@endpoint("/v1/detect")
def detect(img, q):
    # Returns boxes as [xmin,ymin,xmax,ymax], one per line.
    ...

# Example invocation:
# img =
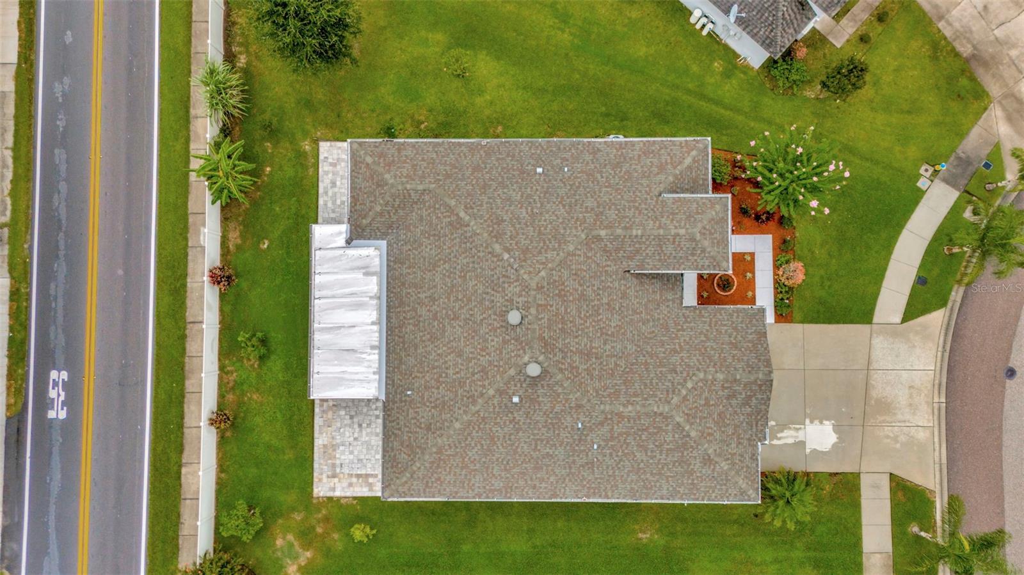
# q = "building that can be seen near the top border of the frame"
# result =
[682,0,846,67]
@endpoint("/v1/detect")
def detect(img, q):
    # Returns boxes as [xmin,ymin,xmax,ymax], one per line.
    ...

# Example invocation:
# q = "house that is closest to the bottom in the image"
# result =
[310,136,776,504]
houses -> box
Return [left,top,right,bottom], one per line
[310,136,776,504]
[682,0,846,67]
